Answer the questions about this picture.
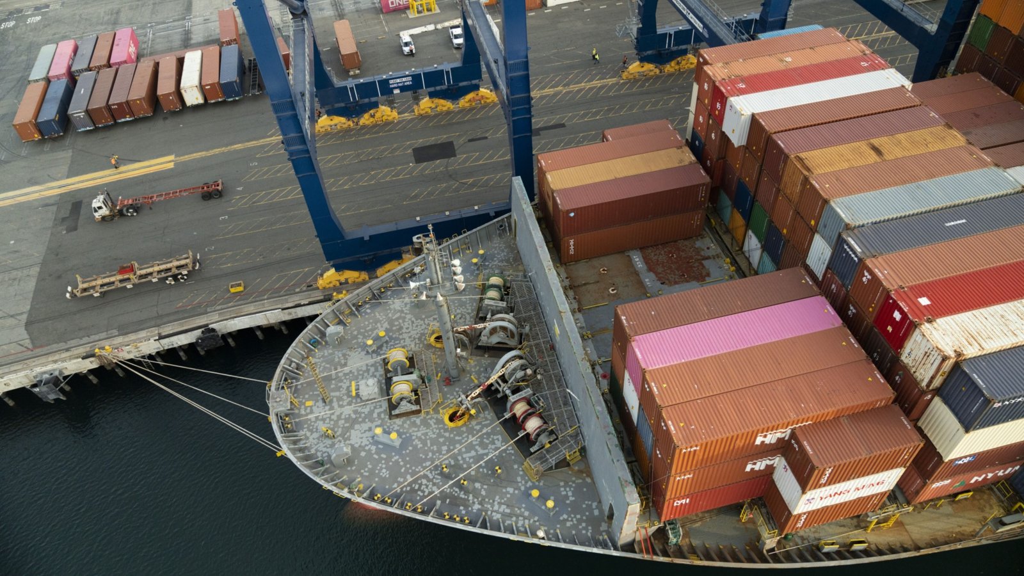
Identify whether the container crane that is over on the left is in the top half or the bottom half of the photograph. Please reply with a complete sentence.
It is in the top half that the container crane that is over on the left appears.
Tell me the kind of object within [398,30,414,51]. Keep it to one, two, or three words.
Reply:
car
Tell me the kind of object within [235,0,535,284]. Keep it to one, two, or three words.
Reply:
container crane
